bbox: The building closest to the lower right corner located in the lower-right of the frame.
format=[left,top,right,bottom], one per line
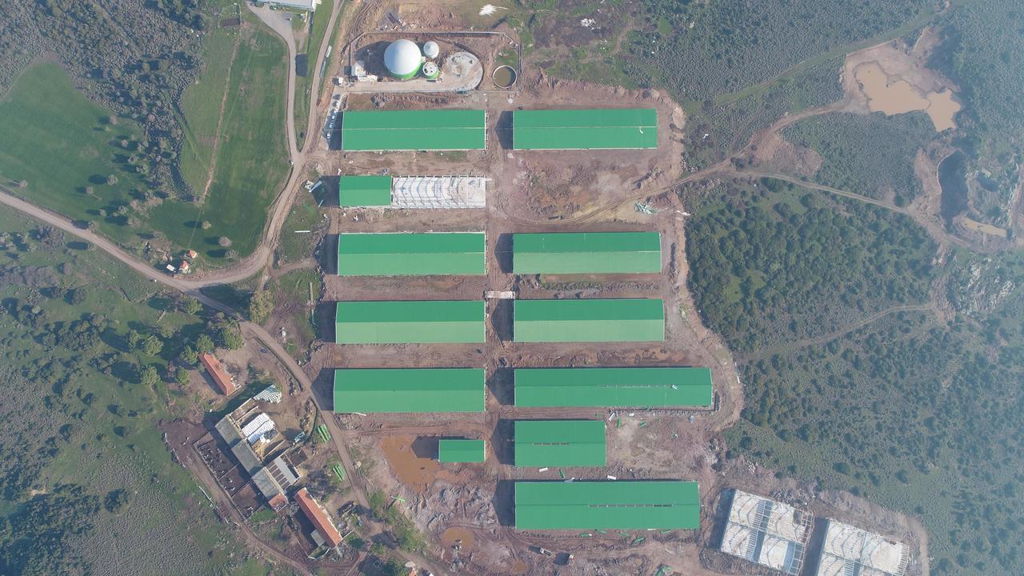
[814,519,914,576]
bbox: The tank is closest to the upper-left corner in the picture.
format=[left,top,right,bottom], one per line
[384,40,422,81]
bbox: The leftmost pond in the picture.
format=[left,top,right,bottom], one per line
[376,433,443,491]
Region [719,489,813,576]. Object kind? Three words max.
building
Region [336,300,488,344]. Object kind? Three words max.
shed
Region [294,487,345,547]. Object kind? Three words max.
barn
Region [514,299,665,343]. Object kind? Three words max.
shed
